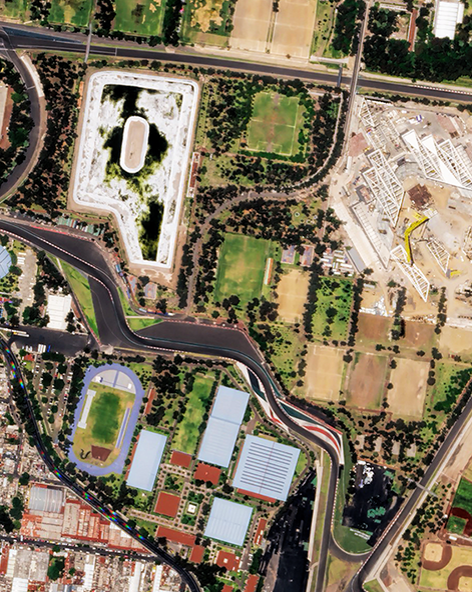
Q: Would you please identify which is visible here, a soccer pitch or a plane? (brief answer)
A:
soccer pitch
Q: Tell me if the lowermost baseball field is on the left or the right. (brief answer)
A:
right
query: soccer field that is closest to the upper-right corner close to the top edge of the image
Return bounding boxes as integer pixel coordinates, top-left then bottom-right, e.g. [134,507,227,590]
[271,0,317,58]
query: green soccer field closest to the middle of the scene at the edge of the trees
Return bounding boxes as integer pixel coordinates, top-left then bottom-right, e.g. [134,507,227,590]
[216,233,271,304]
